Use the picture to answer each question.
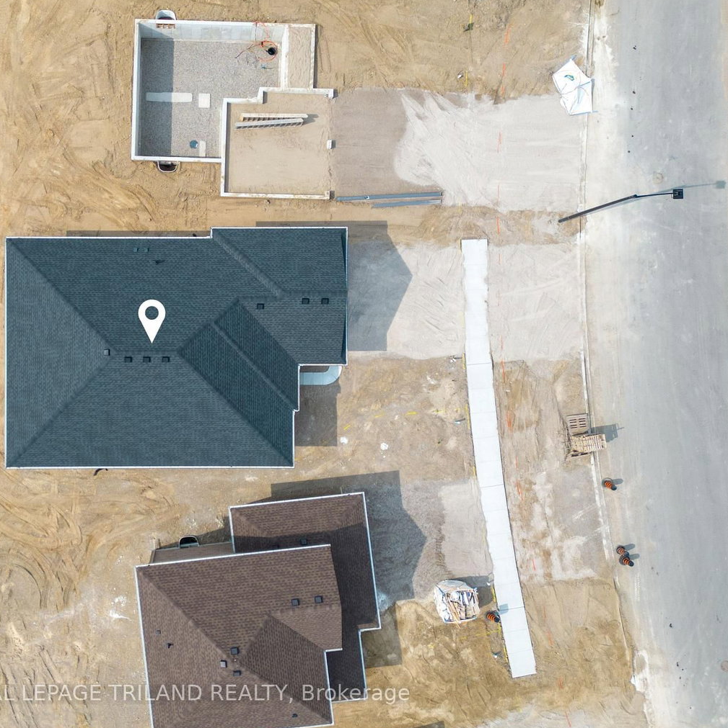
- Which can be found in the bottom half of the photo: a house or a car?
house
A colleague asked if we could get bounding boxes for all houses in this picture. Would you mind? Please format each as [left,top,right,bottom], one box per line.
[5,225,349,476]
[134,490,382,728]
